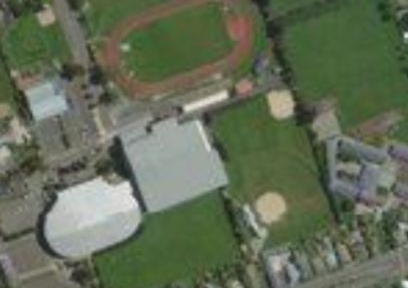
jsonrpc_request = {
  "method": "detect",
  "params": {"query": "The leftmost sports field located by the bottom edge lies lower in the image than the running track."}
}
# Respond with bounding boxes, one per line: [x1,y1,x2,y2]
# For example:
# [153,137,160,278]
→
[94,189,242,288]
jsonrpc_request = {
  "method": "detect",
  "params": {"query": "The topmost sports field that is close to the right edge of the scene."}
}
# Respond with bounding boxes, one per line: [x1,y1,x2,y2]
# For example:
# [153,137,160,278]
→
[276,0,408,148]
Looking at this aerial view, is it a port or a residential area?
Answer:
residential area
